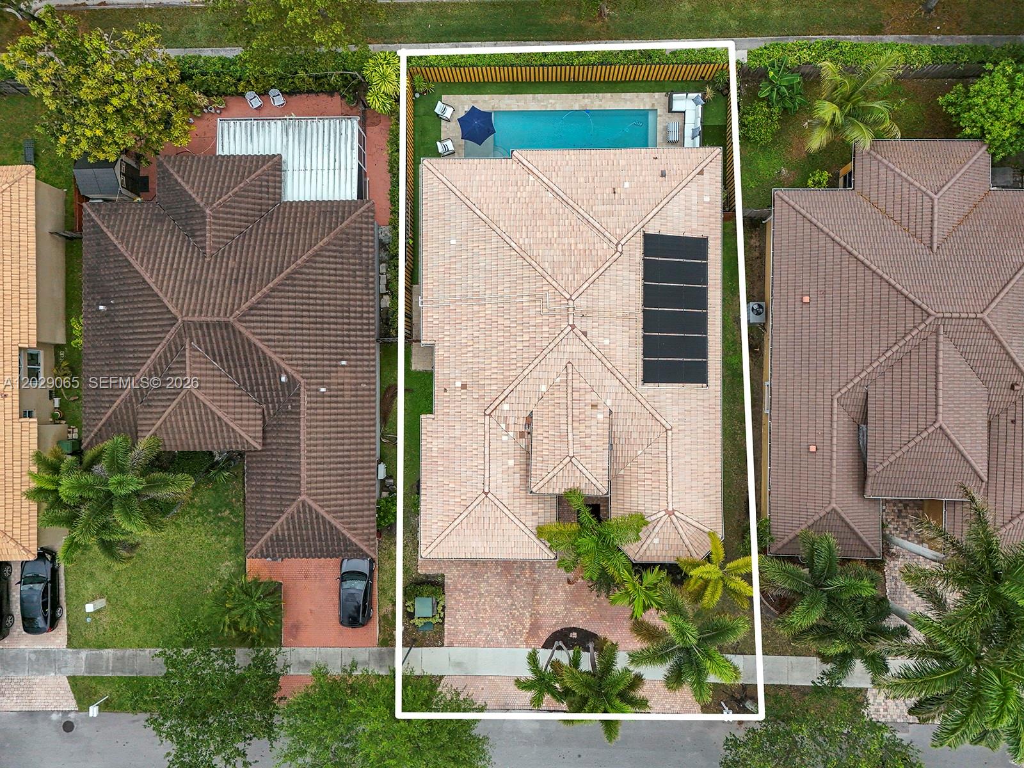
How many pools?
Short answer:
1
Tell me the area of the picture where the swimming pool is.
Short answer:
top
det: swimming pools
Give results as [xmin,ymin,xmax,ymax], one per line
[462,106,660,157]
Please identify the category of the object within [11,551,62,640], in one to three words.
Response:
car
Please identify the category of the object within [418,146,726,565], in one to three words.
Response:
house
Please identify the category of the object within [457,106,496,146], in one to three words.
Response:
umbrella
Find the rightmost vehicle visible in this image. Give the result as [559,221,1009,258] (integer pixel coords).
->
[330,559,372,637]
